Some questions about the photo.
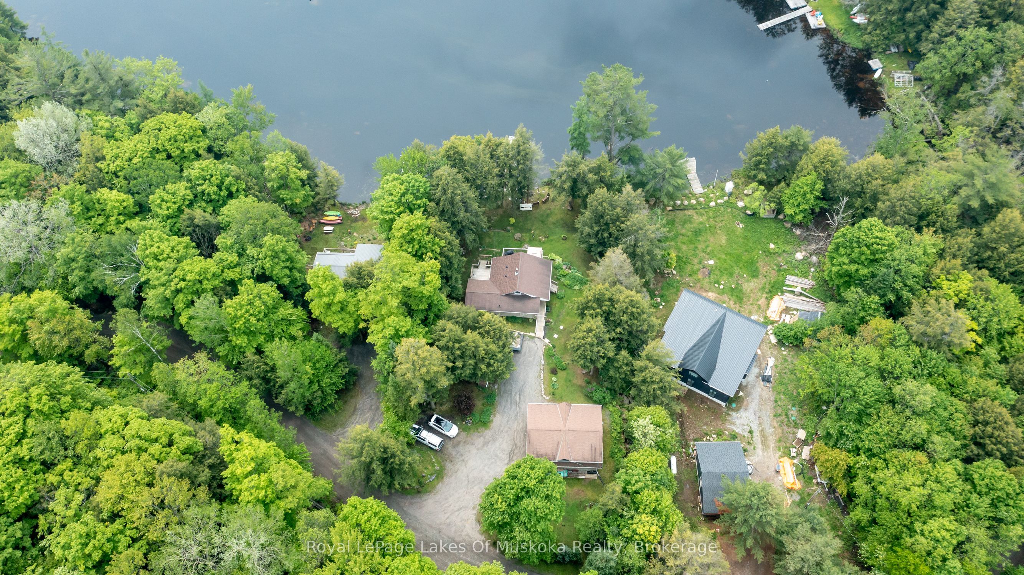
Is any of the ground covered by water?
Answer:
Yes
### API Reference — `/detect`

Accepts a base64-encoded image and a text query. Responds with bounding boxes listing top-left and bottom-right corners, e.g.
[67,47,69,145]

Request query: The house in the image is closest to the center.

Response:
[467,248,558,324]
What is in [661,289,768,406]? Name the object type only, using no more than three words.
house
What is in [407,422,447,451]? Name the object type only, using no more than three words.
truck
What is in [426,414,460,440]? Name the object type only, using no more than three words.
car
